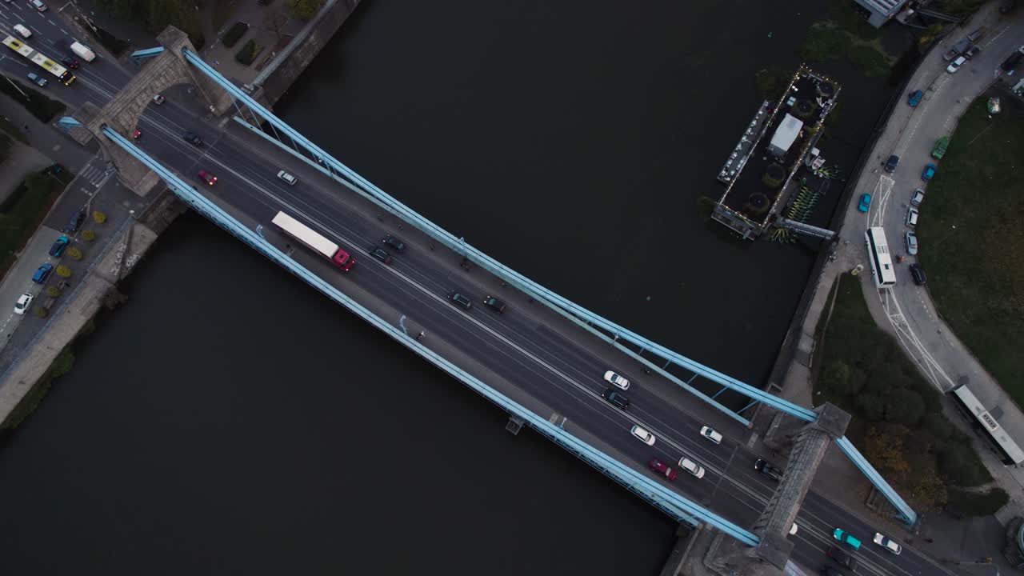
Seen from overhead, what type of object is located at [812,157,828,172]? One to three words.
boat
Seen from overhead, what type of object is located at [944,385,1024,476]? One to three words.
bus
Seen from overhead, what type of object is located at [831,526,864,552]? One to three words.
car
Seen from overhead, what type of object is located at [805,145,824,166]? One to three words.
boat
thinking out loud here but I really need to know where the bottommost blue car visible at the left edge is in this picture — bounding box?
[32,261,55,284]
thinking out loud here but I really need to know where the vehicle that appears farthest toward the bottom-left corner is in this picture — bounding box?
[12,291,36,318]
